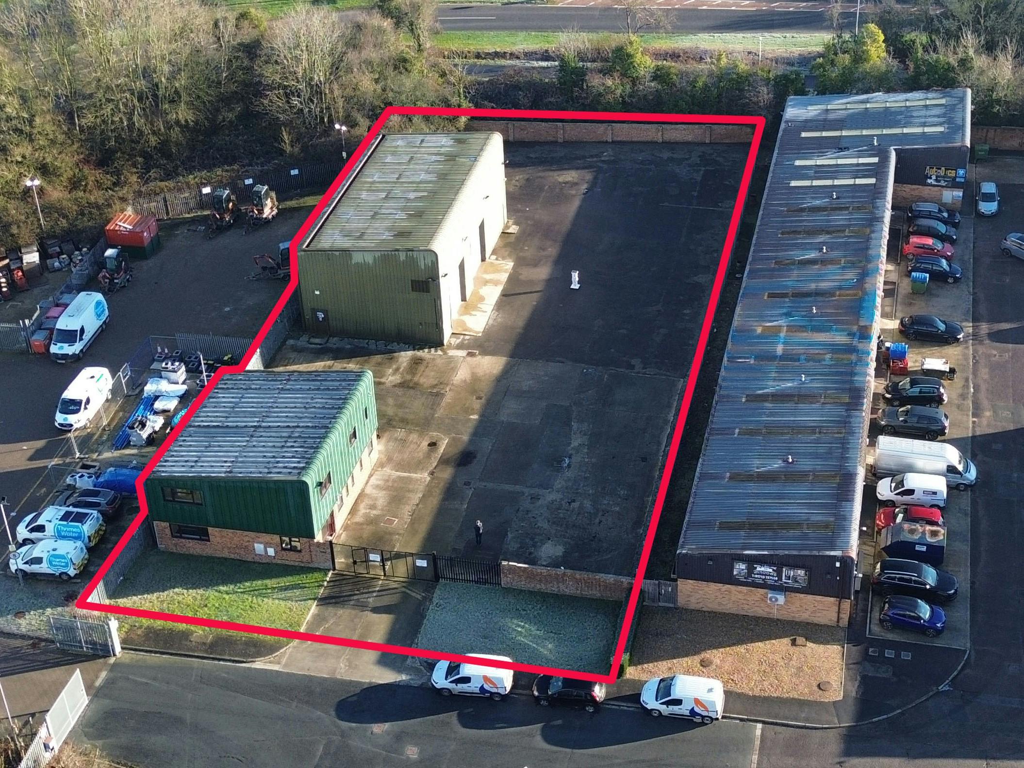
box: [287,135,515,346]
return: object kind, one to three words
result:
warehouse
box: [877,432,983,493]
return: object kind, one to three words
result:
van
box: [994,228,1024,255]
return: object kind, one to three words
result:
car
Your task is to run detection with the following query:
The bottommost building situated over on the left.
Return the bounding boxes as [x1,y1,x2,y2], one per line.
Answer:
[140,371,381,566]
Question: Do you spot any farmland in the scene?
No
